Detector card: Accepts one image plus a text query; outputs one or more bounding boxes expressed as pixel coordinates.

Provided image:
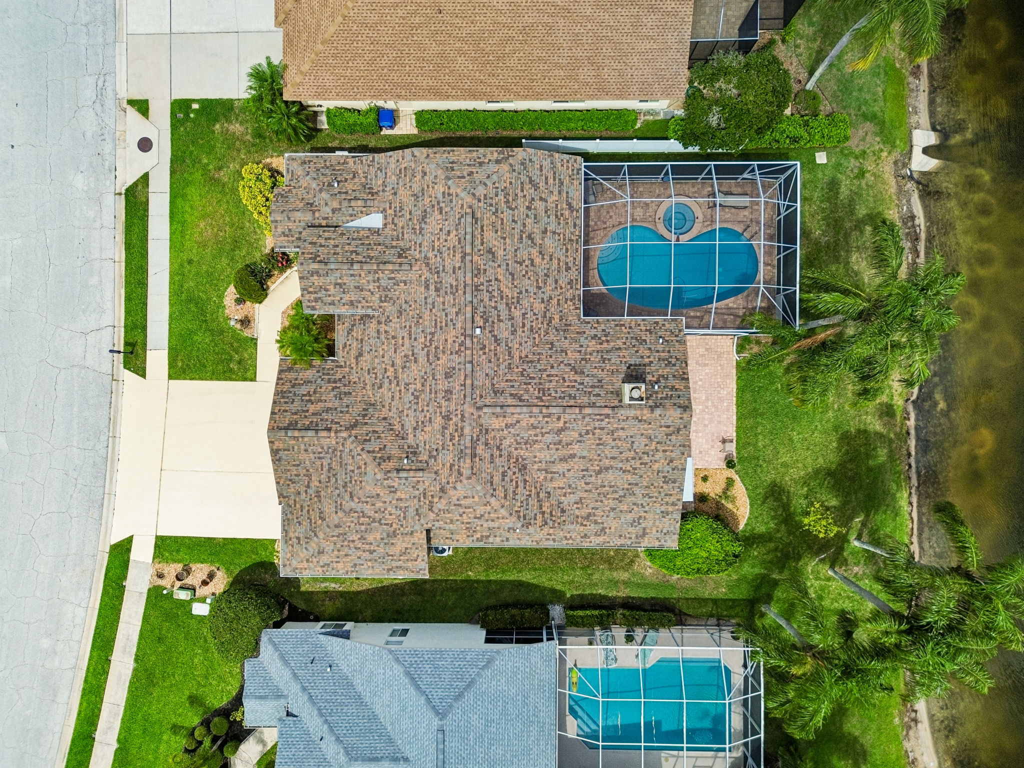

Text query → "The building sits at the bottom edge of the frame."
[242,621,558,768]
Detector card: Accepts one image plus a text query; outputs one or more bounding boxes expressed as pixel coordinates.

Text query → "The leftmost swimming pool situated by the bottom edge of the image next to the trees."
[565,654,734,755]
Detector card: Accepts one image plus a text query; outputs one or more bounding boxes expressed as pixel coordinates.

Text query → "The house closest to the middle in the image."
[268,148,695,578]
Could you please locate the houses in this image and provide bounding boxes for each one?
[275,0,693,109]
[242,621,558,768]
[268,148,695,578]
